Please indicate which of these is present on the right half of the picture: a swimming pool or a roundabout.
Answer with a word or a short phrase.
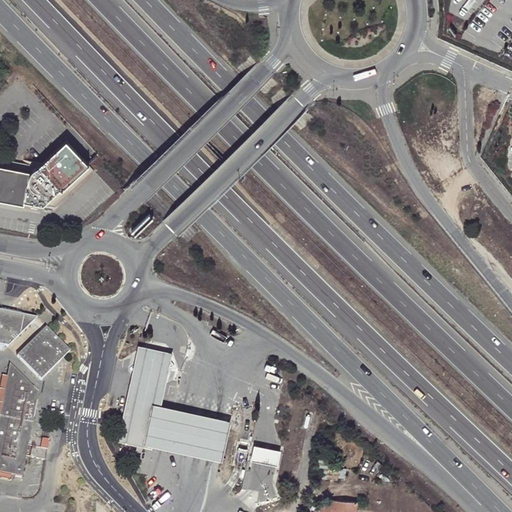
roundabout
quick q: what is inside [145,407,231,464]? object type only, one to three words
building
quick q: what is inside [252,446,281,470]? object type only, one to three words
building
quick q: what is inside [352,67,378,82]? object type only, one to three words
vehicle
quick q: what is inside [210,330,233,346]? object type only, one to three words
vehicle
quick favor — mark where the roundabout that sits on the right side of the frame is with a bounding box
[278,0,428,89]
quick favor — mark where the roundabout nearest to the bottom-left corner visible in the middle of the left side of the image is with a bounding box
[56,230,148,322]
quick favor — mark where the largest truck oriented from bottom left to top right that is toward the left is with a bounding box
[150,490,172,511]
